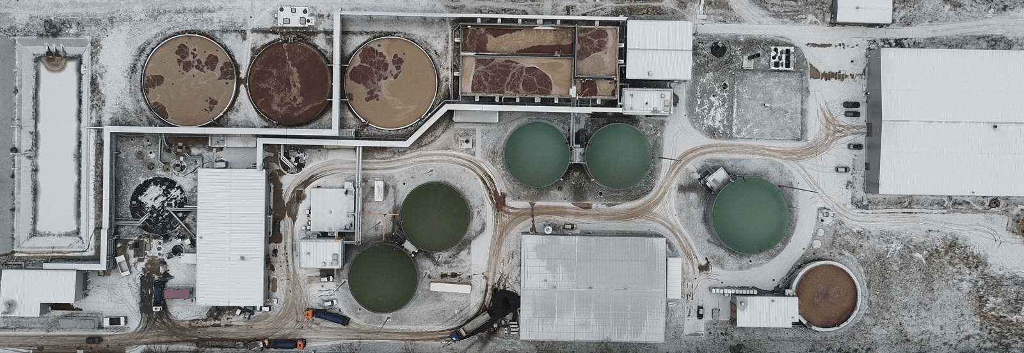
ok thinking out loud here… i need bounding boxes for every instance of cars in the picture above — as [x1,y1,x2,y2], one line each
[260,306,271,312]
[86,336,103,345]
[842,100,860,109]
[696,305,704,320]
[561,222,577,230]
[711,307,719,320]
[321,275,335,283]
[323,299,337,307]
[242,307,253,322]
[211,306,225,321]
[847,143,863,150]
[232,306,244,318]
[844,110,860,118]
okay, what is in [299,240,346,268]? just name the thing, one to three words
building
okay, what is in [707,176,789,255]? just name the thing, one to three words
storage tank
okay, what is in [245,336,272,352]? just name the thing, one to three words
vehicle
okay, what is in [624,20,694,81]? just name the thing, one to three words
building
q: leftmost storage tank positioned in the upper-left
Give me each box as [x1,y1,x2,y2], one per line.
[142,32,241,128]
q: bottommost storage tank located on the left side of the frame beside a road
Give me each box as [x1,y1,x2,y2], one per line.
[347,239,422,314]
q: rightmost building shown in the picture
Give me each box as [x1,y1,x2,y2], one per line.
[867,49,1024,194]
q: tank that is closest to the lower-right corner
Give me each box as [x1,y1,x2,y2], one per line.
[787,259,862,331]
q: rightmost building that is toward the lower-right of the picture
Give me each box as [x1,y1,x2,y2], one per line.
[731,294,799,328]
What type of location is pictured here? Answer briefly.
industrial area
